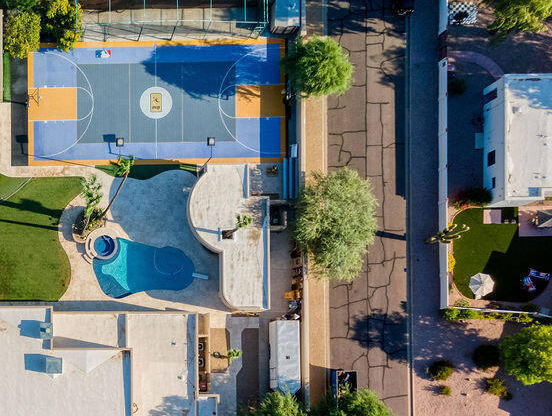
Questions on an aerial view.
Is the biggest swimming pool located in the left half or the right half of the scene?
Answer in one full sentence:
The biggest swimming pool sits on the left side.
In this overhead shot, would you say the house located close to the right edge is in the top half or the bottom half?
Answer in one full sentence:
It is in the top half that the house located close to the right edge appears.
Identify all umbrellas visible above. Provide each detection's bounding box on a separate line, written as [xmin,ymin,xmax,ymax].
[467,273,493,298]
[535,210,552,229]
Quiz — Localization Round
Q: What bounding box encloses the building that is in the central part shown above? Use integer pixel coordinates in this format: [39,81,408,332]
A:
[185,164,270,311]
